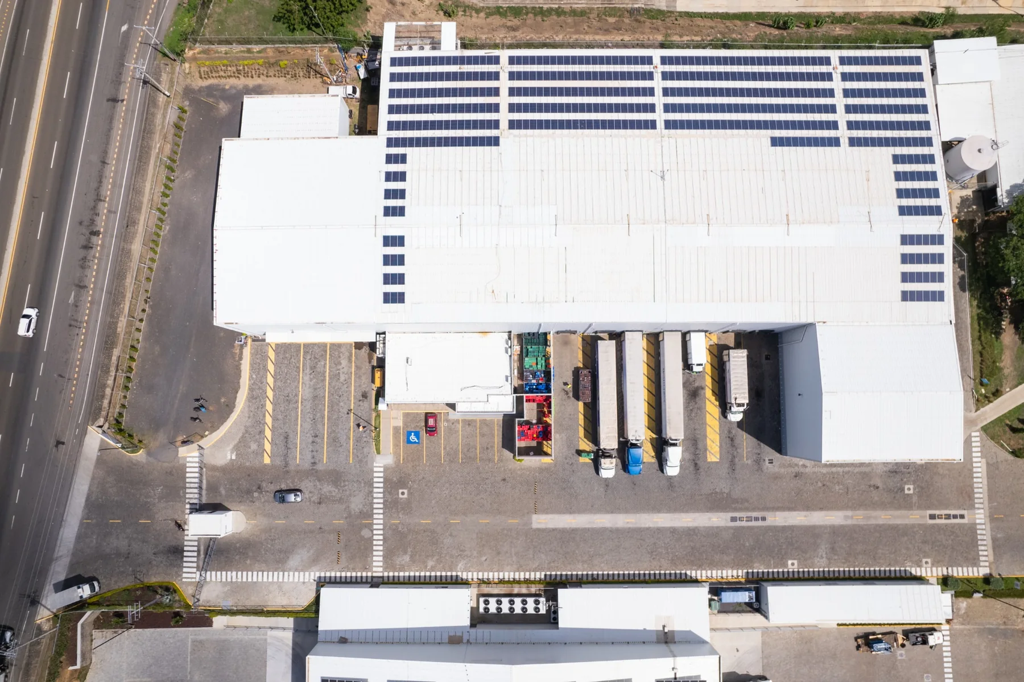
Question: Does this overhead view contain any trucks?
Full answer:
Yes, a truck is visible in the scene.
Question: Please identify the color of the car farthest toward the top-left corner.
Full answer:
The car farthest toward the top-left corner looks white in the image.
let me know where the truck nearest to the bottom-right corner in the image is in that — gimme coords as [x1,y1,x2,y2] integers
[910,632,946,653]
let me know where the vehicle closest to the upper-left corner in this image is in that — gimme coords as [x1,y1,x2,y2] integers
[14,307,38,336]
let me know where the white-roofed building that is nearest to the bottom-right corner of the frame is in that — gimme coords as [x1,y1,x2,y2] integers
[753,577,952,623]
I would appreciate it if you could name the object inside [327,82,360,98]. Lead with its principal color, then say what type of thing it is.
white vehicle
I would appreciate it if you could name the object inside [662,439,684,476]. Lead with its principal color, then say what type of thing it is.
white truck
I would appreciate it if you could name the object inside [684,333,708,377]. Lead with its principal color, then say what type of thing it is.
white truck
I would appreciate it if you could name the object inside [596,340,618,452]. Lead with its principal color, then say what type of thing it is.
white trailer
